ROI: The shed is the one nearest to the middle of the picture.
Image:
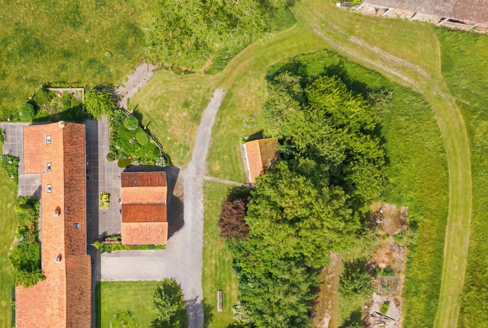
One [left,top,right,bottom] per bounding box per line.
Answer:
[243,137,283,182]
